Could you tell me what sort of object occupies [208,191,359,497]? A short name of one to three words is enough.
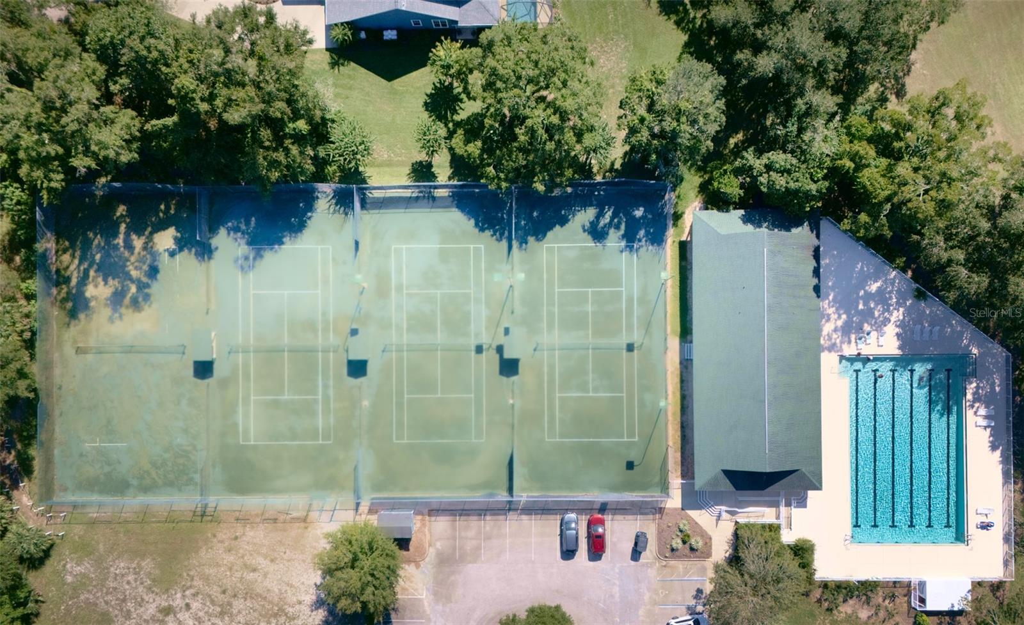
tennis court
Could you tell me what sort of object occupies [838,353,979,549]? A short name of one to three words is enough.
swimming pool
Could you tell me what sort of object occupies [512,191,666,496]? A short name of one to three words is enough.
tennis court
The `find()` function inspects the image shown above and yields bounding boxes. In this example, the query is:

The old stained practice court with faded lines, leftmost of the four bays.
[53,191,208,497]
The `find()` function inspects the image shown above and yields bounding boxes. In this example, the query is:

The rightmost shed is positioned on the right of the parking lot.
[899,573,971,610]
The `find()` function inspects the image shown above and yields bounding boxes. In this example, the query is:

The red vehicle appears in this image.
[588,514,607,553]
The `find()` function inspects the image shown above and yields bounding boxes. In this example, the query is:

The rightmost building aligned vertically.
[691,210,822,491]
